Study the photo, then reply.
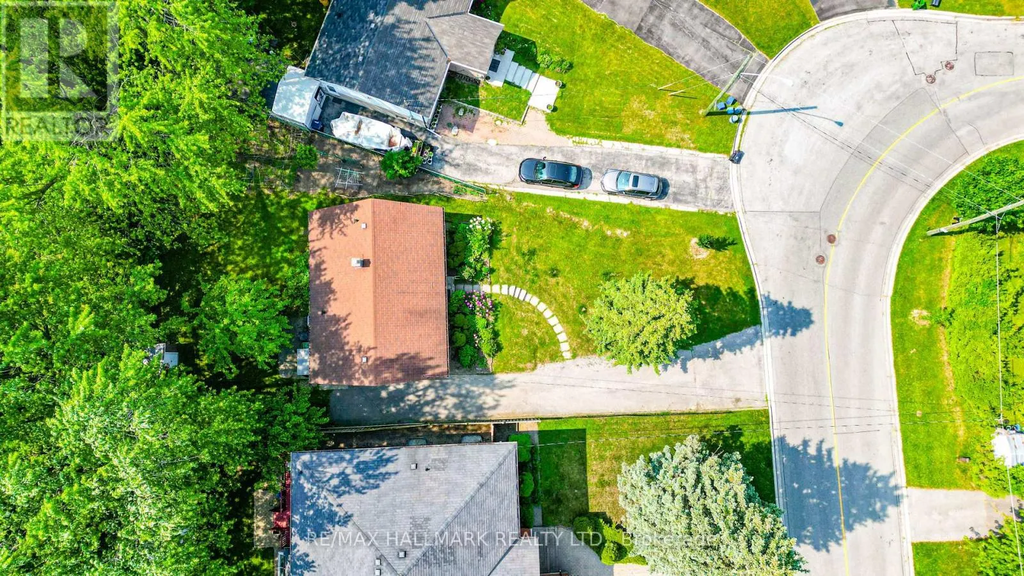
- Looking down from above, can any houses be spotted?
Yes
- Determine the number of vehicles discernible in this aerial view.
2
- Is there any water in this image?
No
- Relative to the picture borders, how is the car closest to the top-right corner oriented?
from side to side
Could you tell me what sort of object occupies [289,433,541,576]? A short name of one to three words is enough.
house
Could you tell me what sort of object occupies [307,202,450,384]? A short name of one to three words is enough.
house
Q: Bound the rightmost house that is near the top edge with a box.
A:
[303,0,505,127]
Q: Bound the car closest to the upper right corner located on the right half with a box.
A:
[601,167,663,201]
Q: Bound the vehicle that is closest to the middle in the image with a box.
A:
[519,158,584,192]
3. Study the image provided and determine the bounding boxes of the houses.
[289,433,541,576]
[303,0,505,127]
[307,202,450,384]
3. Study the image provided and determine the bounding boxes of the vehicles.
[519,158,584,192]
[601,167,663,201]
